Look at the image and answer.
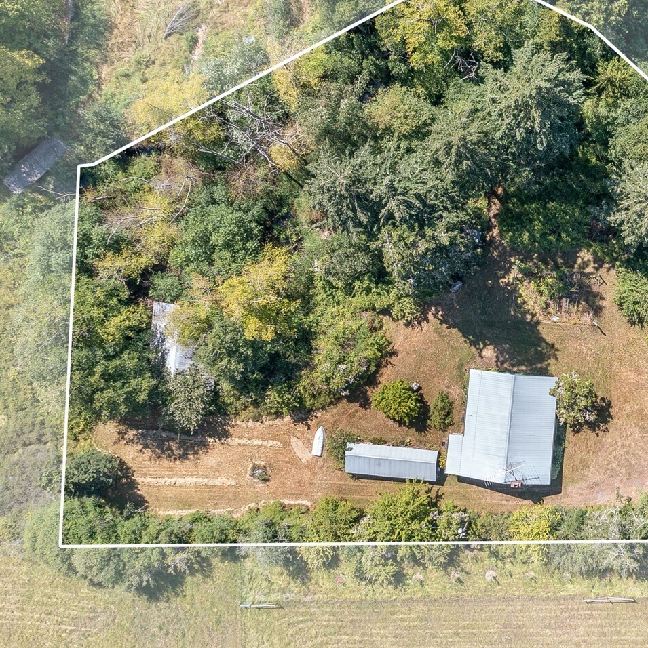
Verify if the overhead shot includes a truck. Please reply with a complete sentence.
No, no truck is visible in the scene.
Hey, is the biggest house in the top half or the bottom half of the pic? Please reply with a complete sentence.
Seen from above, the biggest house lies in the bottom half of the view.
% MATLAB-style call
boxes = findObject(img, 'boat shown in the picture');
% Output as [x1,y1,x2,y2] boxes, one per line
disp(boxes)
[312,426,324,457]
